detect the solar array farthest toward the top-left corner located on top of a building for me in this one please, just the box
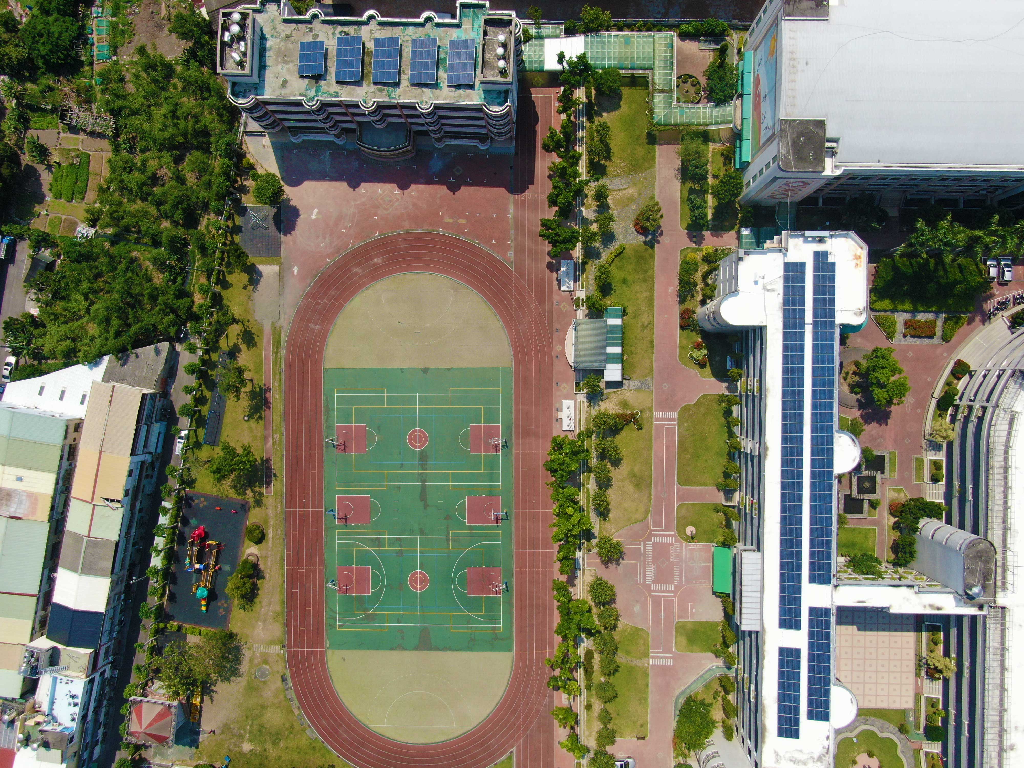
[298,40,325,77]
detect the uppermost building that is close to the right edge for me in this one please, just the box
[723,0,1024,210]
